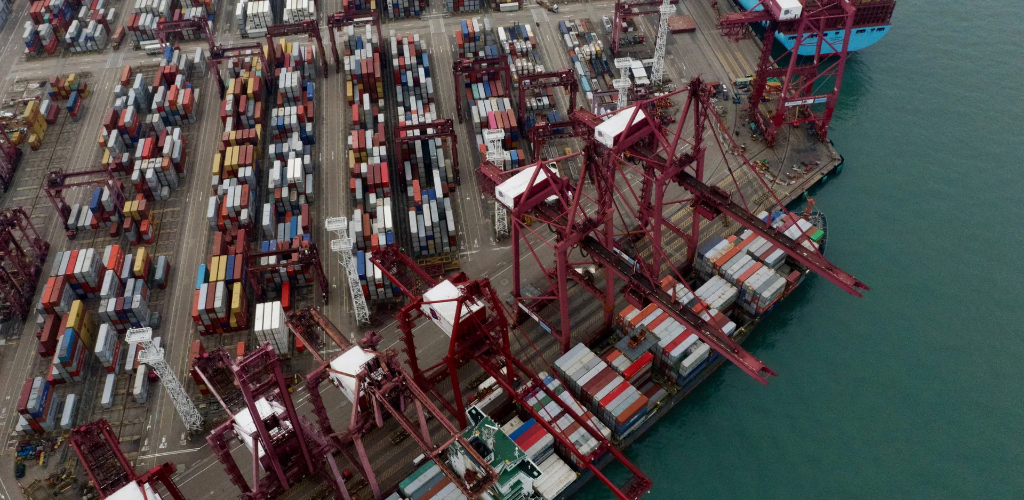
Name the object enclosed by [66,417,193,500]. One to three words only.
container crane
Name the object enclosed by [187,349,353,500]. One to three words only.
container crane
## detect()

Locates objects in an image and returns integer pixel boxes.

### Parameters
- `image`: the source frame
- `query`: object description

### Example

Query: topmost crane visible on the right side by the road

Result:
[610,0,664,58]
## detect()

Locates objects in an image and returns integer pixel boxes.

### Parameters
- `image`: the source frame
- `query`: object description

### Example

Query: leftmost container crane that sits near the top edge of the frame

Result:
[147,14,213,69]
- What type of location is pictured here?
port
